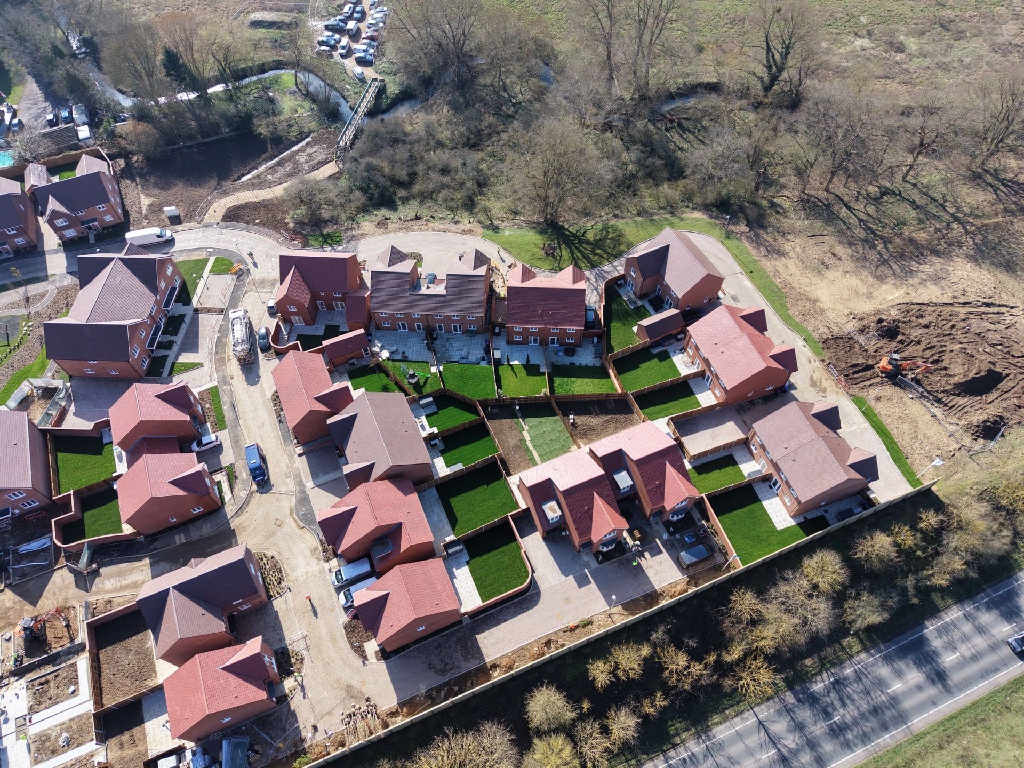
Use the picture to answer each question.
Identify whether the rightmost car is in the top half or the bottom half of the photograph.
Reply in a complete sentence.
The rightmost car is in the bottom half of the image.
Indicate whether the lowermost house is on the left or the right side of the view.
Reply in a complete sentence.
The lowermost house is on the left side of the image.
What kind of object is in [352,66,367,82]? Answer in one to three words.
car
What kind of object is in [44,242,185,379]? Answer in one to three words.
building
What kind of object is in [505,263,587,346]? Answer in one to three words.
house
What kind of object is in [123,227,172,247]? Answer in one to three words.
vehicle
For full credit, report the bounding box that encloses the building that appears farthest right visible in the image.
[747,400,878,516]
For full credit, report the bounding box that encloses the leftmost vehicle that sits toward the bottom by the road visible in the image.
[6,615,58,651]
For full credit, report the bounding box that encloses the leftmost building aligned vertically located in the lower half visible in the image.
[0,411,51,519]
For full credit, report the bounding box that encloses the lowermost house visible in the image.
[163,635,281,742]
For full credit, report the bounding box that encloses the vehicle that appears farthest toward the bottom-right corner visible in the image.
[1003,629,1024,654]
